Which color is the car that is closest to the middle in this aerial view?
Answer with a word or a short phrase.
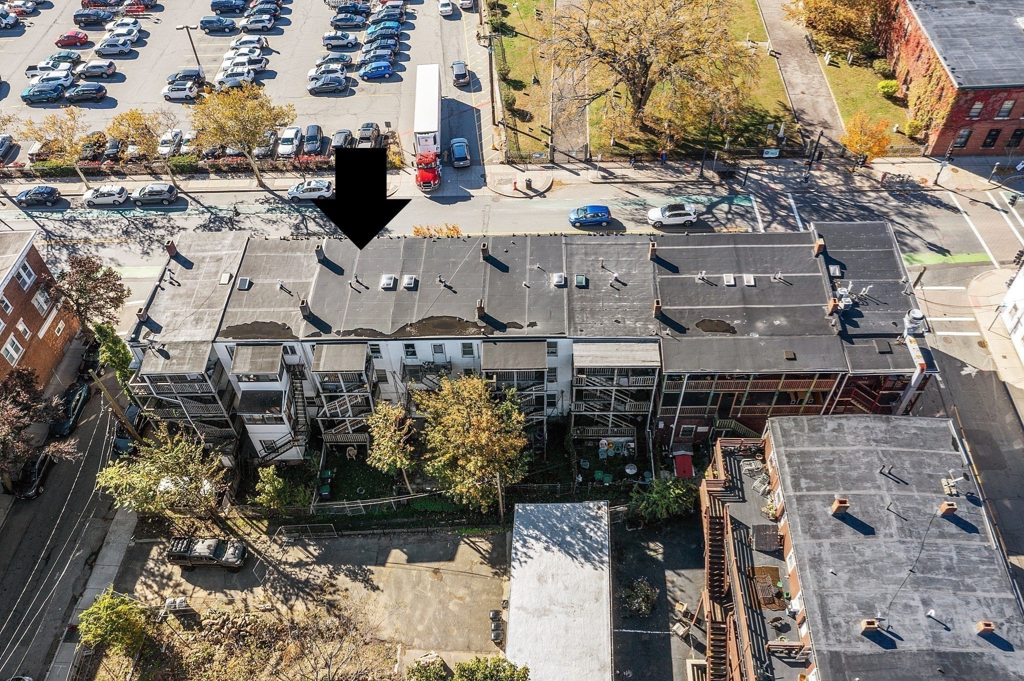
blue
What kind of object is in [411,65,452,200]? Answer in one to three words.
truck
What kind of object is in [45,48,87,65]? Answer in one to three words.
car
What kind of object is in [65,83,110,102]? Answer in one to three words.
car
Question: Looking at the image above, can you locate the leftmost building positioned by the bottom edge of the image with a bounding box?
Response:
[508,501,621,681]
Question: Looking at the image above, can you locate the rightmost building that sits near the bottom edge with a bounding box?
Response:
[693,419,1024,681]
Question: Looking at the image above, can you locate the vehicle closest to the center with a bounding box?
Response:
[568,205,612,228]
